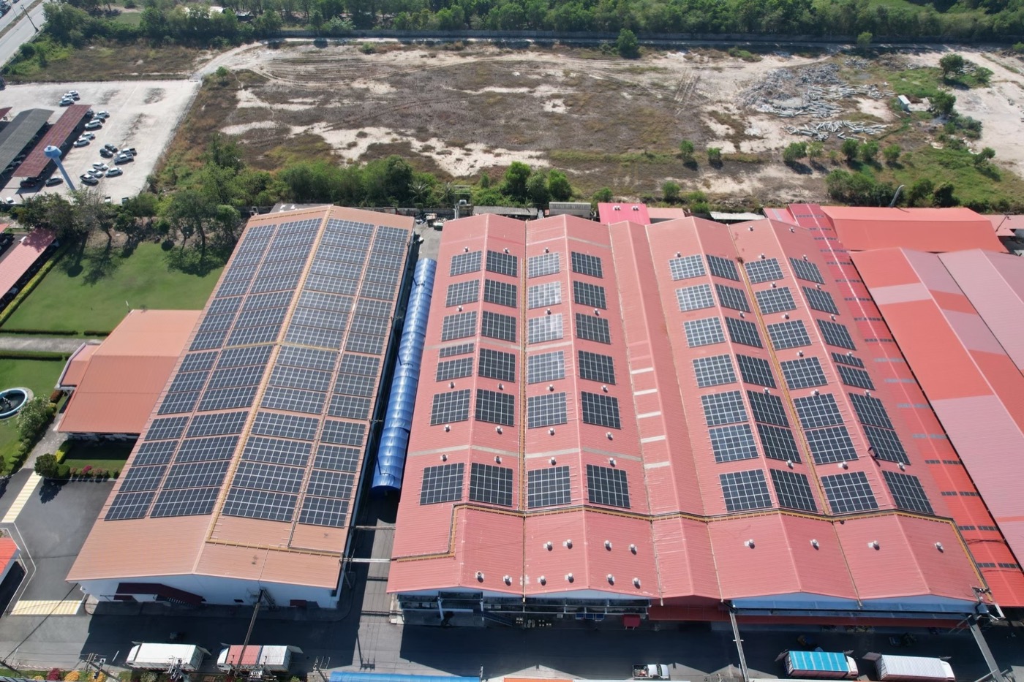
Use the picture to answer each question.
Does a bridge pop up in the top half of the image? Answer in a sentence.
No, I see no bridge in the top half of the image.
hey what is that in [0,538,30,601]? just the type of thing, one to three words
building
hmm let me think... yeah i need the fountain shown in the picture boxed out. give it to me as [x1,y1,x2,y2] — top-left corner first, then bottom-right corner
[0,379,41,428]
